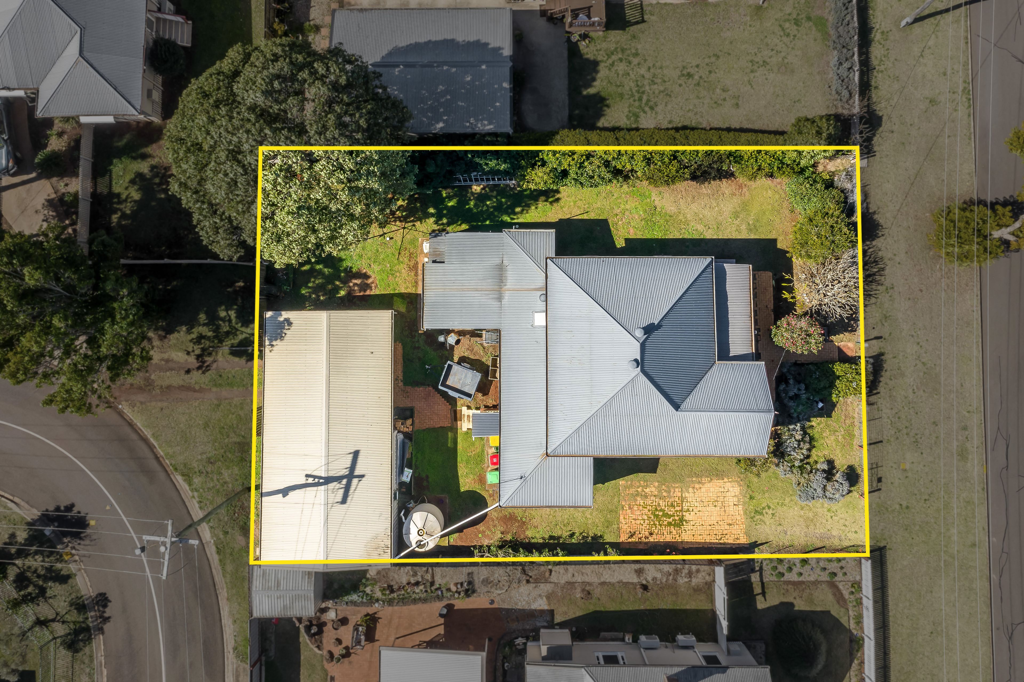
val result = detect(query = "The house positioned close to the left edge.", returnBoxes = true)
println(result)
[0,0,192,127]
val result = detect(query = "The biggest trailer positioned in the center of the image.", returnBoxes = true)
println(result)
[421,358,482,403]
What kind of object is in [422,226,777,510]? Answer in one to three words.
house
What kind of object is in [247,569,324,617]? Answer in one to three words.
shed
